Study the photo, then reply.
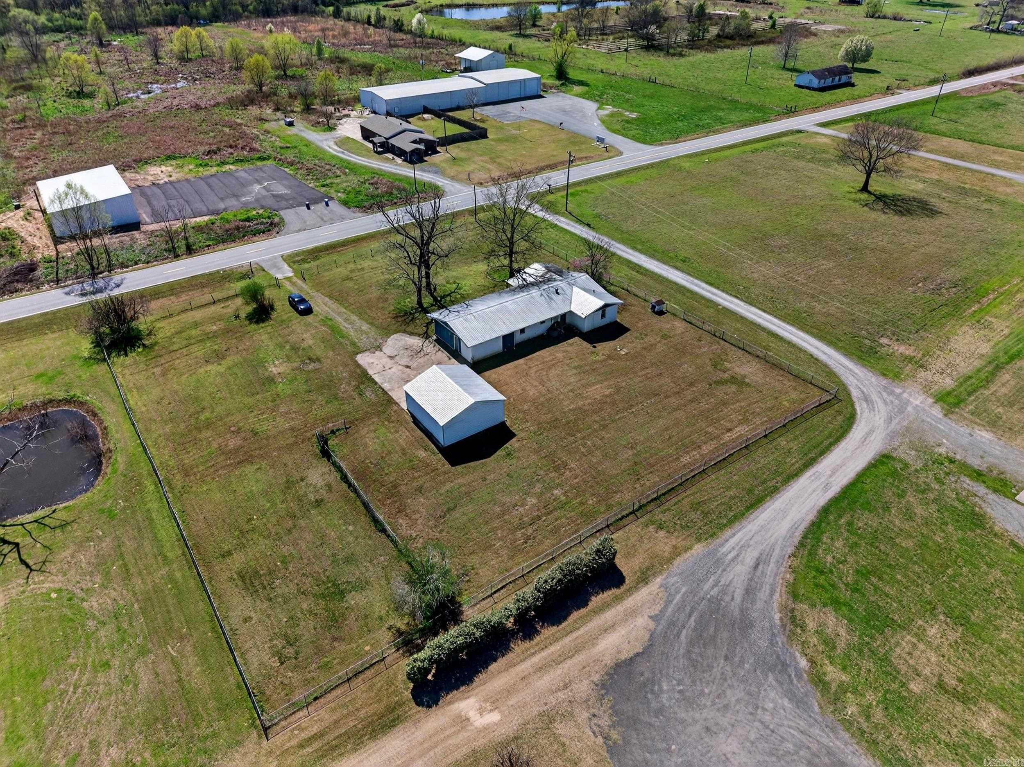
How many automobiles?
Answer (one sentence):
Altogether the scene contains 1 automobile.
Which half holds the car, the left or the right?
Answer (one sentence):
It is on the left.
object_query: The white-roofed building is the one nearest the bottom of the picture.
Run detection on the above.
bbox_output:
[401,365,509,447]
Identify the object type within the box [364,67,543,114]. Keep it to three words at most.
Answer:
building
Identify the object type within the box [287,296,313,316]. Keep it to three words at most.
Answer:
car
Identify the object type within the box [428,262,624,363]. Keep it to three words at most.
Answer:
house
